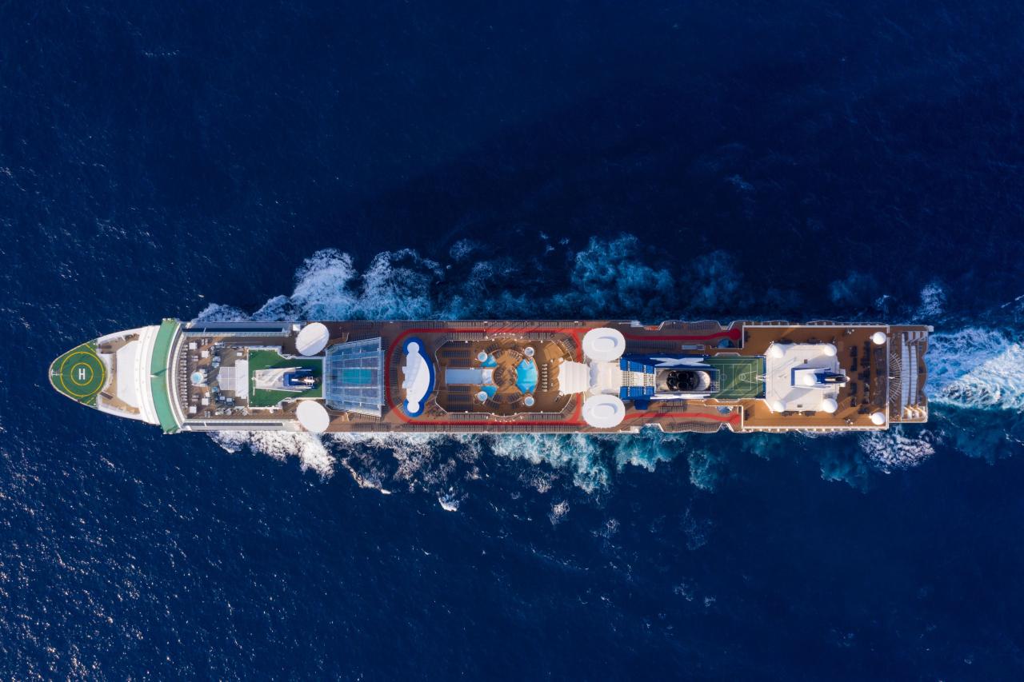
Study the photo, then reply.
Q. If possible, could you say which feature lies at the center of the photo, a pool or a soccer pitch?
pool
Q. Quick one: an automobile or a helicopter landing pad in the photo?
helicopter landing pad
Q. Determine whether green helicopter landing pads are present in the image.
Yes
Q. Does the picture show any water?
Yes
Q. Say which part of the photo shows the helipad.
left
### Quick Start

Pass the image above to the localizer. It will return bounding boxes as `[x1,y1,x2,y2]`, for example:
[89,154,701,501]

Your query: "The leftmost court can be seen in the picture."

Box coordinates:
[705,352,764,402]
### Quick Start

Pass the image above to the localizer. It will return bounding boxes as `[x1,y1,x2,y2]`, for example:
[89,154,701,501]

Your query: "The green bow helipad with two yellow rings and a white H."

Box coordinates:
[50,338,107,409]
